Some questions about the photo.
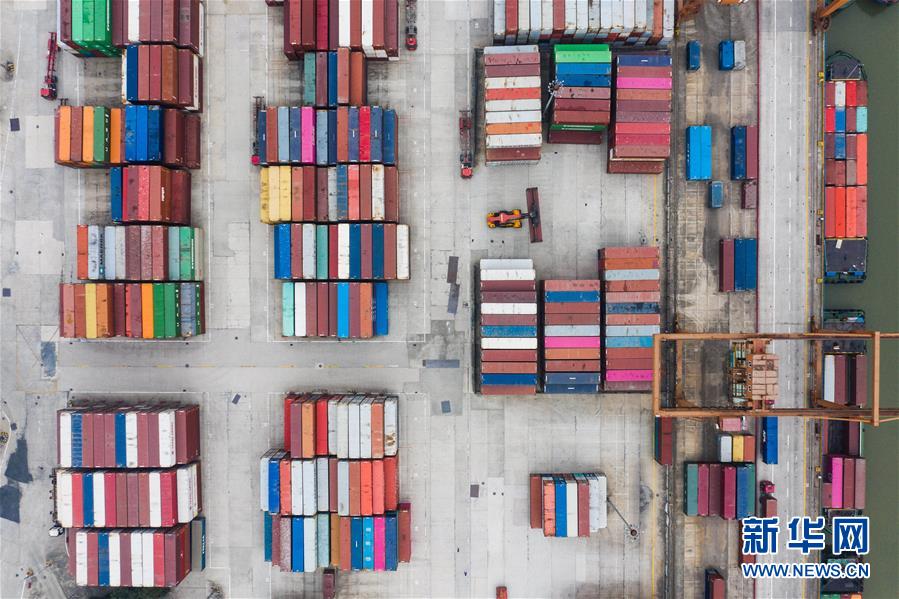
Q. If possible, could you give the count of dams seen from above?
0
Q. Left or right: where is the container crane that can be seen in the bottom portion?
right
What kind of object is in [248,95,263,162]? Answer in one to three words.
vehicle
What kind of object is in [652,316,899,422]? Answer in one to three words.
container crane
